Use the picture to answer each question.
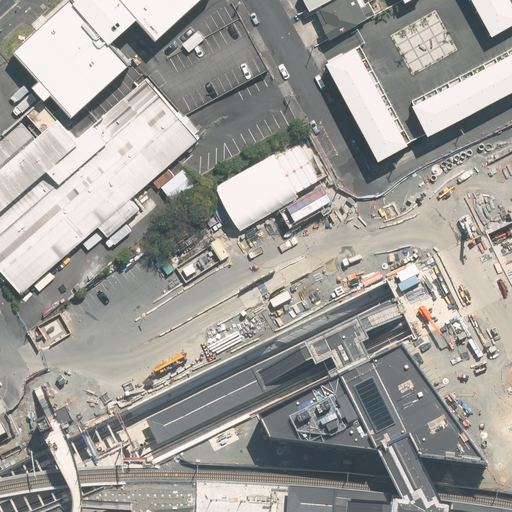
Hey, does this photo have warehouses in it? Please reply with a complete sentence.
Yes, I can see a warehouse in this picture.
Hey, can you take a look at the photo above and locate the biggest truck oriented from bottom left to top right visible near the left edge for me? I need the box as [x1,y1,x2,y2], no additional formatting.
[11,92,39,116]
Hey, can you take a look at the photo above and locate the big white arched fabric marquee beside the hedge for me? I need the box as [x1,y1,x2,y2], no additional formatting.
[218,156,298,231]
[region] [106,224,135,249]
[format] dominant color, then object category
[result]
white truck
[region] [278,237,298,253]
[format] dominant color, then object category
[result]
white vehicle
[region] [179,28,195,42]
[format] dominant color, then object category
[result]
gray car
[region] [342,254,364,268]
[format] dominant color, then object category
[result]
white vehicle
